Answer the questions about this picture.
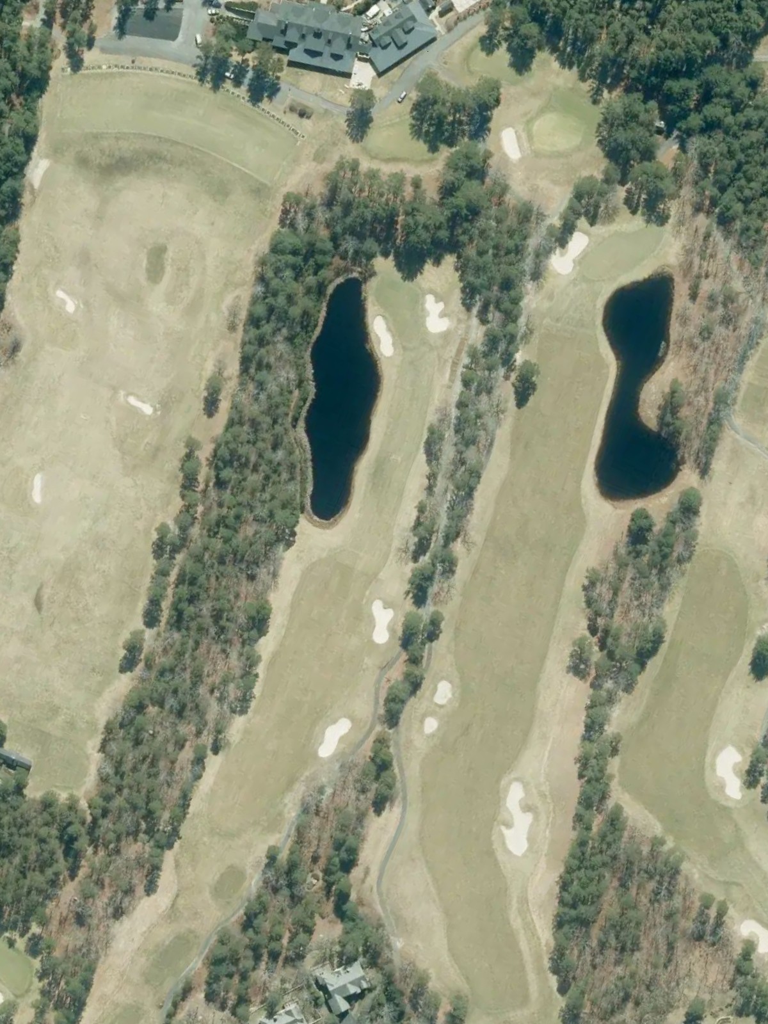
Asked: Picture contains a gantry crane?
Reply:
No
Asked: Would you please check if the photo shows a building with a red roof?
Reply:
No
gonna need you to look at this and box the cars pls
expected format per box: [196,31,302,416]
[225,72,235,79]
[210,0,220,7]
[195,33,201,44]
[208,9,218,14]
[398,91,406,102]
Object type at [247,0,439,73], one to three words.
building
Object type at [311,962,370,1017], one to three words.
house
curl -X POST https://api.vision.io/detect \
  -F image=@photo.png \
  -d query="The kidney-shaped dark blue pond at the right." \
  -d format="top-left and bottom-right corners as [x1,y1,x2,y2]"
[594,273,678,500]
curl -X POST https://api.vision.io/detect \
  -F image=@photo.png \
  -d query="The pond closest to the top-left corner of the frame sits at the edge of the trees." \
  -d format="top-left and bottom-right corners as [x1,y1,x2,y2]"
[304,277,380,520]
